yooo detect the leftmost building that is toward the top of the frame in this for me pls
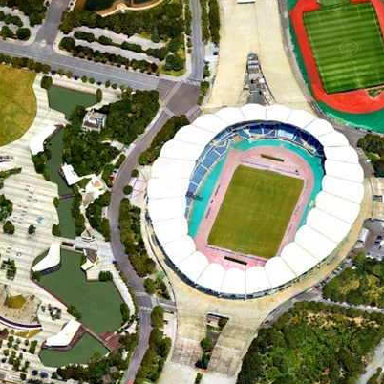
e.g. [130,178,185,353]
[30,124,63,155]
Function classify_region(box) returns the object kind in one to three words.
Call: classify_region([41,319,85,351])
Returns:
building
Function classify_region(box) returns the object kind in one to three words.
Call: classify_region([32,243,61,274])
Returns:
building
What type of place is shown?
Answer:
sports ground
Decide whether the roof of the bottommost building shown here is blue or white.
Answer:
white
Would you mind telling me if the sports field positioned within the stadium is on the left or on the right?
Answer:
right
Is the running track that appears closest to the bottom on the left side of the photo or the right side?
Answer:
right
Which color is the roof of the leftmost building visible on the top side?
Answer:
white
